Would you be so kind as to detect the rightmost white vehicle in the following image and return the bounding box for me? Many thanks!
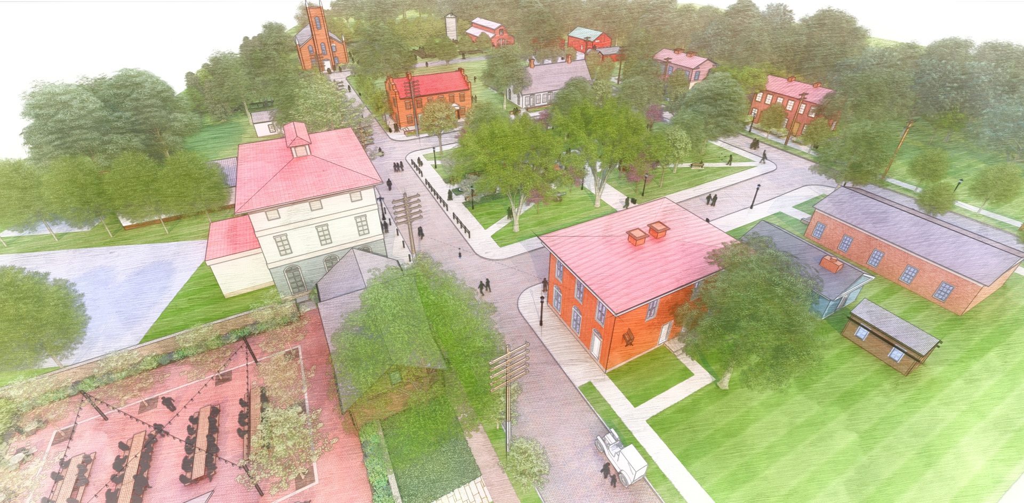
[595,431,651,492]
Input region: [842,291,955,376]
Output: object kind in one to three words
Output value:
shed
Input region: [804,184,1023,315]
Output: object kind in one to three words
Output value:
building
